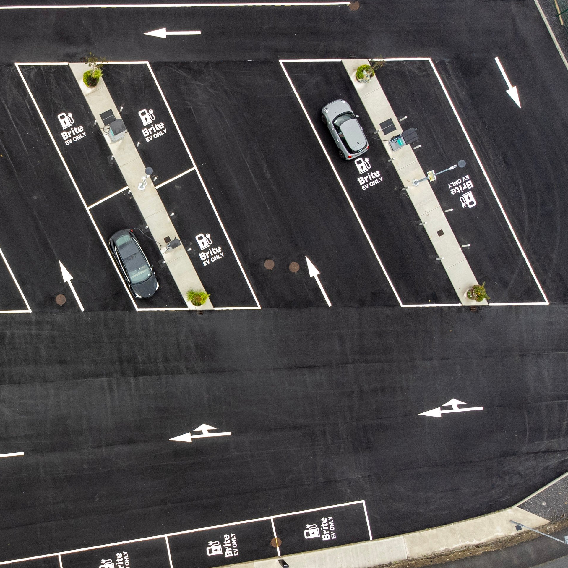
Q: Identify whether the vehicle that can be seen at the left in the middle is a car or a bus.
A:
car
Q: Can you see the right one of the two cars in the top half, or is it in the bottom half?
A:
top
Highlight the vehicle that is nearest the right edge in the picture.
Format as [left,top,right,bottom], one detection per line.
[321,98,371,160]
